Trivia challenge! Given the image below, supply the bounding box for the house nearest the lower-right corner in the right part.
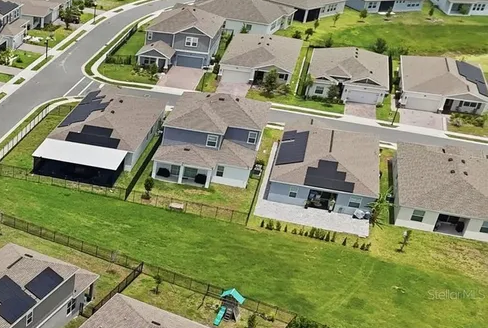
[390,143,488,241]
